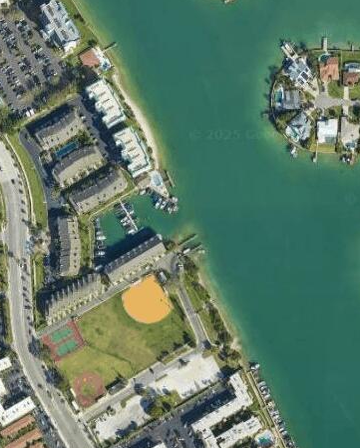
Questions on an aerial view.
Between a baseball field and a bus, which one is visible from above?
baseball field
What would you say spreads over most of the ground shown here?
water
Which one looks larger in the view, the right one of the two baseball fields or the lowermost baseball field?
the right one of the two baseball fields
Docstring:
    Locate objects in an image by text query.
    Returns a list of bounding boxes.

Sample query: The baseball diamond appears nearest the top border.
[116,274,188,347]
